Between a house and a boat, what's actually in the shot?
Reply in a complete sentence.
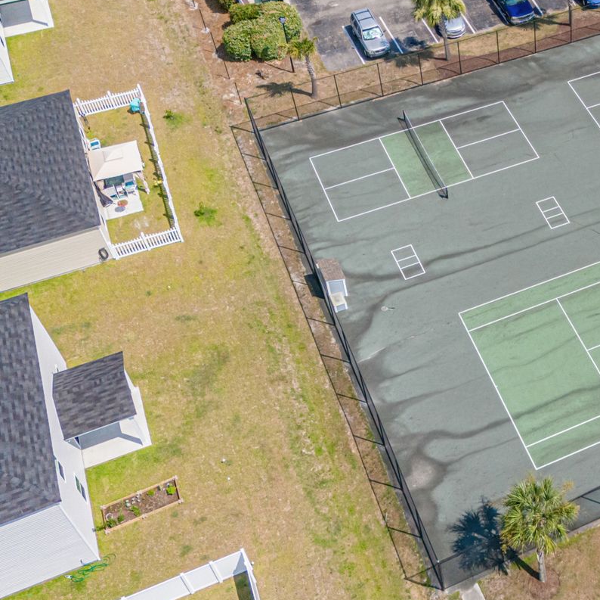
This aerial view contains a house.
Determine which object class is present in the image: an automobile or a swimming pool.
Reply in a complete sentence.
This aerial view contains an automobile.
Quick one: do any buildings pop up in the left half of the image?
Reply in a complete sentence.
Yes, a building appears in the left half of the image.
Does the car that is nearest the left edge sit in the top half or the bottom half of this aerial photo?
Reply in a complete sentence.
Seen from above, the car that is nearest the left edge lies in the top half of the view.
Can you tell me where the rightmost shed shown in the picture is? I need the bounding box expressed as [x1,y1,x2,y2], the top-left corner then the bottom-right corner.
[318,257,350,304]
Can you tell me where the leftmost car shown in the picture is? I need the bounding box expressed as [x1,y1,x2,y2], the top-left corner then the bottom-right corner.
[348,7,391,59]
